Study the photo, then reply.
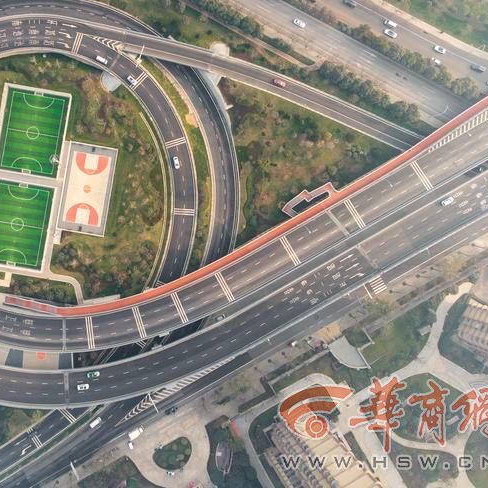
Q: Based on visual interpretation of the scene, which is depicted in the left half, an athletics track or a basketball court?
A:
basketball court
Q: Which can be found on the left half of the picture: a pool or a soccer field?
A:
soccer field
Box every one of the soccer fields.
[0,180,54,270]
[0,87,69,180]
